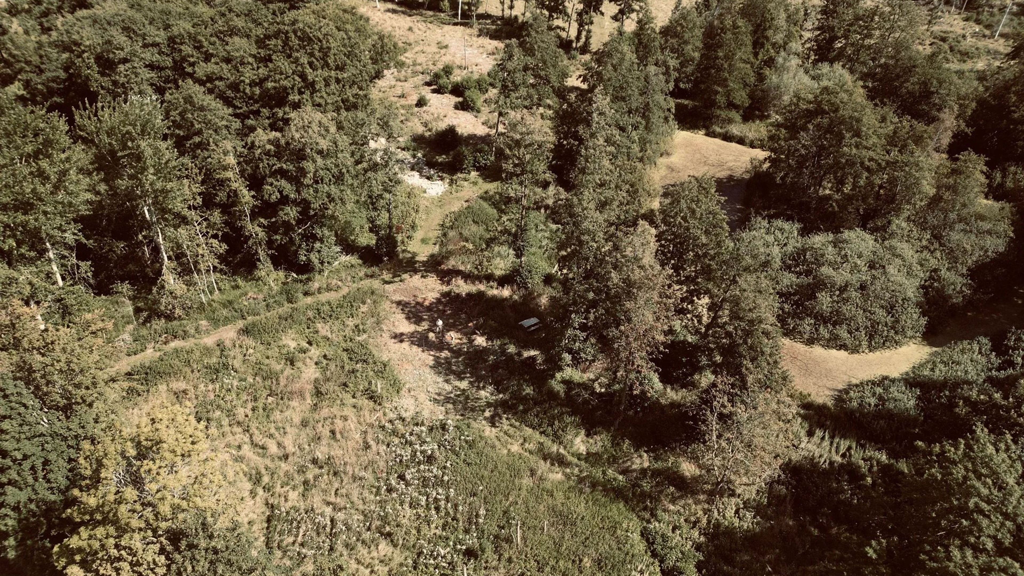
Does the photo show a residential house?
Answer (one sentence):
No, I can't see a single residential house in this photo.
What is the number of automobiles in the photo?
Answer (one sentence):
I count no automobiles.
